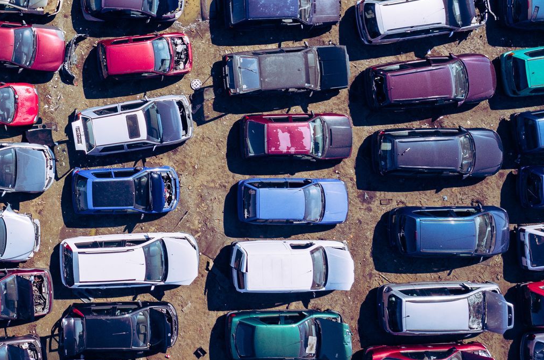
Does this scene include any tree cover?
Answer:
No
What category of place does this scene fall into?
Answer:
parking lot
